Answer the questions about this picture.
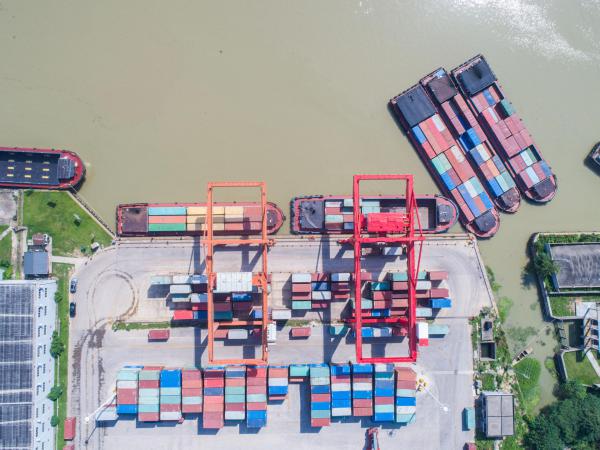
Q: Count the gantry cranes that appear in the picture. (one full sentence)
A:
The photo contains 2 gantry cranes.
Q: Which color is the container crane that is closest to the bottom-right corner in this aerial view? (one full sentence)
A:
From above, the container crane that is closest to the bottom-right corner appears red.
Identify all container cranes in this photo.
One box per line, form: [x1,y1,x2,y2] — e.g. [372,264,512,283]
[336,175,428,362]
[200,182,282,363]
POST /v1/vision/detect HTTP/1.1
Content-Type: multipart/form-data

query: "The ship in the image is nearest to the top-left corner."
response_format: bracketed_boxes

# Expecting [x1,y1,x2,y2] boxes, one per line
[0,146,87,189]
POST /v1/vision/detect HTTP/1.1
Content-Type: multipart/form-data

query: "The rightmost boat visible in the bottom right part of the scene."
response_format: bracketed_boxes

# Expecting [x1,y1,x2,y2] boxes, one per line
[513,347,534,366]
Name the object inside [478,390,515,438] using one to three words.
building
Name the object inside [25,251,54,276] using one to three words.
house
